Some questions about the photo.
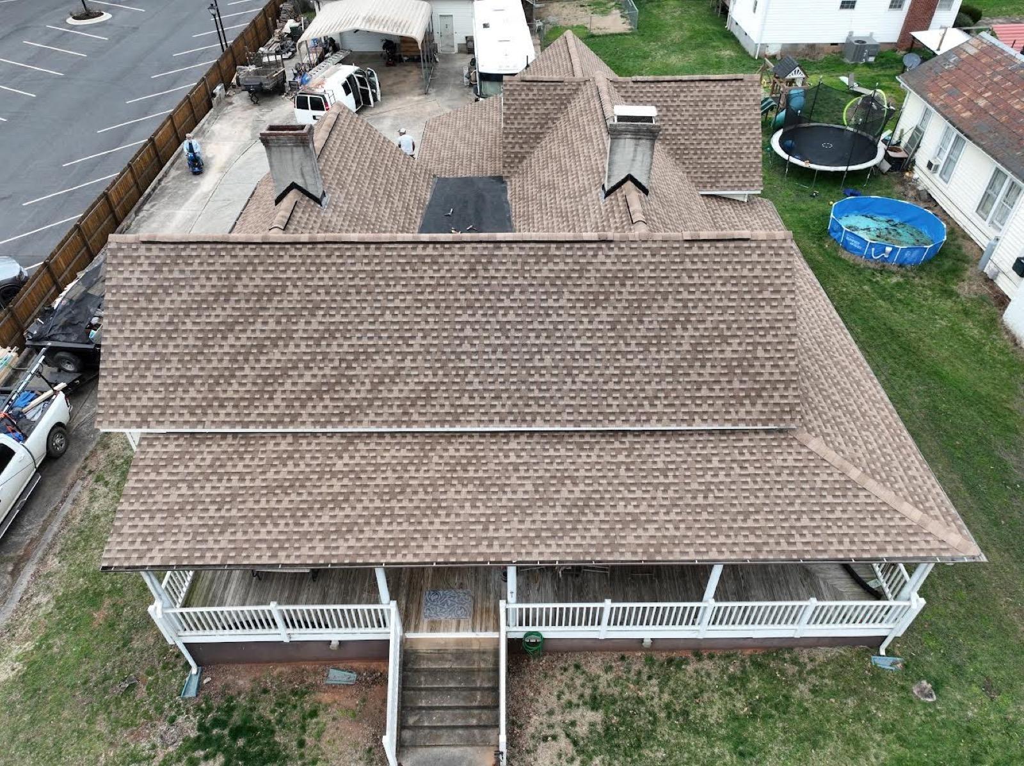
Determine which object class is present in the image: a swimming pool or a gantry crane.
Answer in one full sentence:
I can see a swimming pool in this picture.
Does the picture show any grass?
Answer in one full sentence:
Yes, the picture does contain grass.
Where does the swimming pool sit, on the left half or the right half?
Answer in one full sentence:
The swimming pool sits on the right side.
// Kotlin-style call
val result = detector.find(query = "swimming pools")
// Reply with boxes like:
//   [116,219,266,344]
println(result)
[820,194,947,268]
